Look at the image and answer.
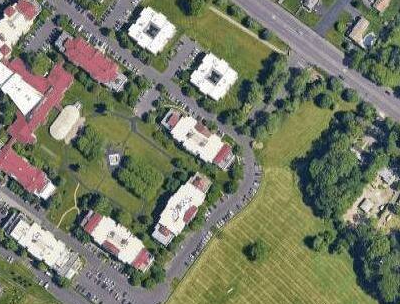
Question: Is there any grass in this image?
Yes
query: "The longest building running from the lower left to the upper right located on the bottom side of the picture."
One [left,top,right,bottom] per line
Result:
[152,172,212,247]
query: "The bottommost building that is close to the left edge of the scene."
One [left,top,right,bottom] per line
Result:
[3,213,80,281]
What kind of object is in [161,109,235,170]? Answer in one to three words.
building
